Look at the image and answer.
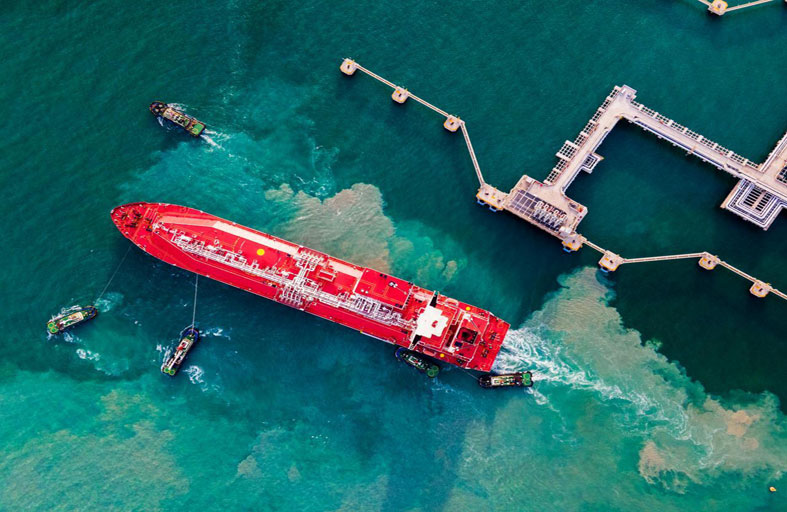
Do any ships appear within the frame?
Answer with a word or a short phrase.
Yes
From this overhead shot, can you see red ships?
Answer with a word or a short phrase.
Yes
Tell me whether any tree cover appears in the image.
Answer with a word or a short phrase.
No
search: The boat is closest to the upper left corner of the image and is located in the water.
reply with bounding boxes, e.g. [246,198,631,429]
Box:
[148,104,207,140]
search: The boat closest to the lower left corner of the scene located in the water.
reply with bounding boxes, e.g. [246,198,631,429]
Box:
[49,306,100,336]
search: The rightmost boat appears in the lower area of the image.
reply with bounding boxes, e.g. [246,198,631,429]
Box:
[477,370,533,388]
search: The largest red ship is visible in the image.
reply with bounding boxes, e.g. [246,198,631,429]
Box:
[108,201,509,372]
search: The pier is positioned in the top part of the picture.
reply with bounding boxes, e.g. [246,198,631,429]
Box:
[546,84,787,205]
